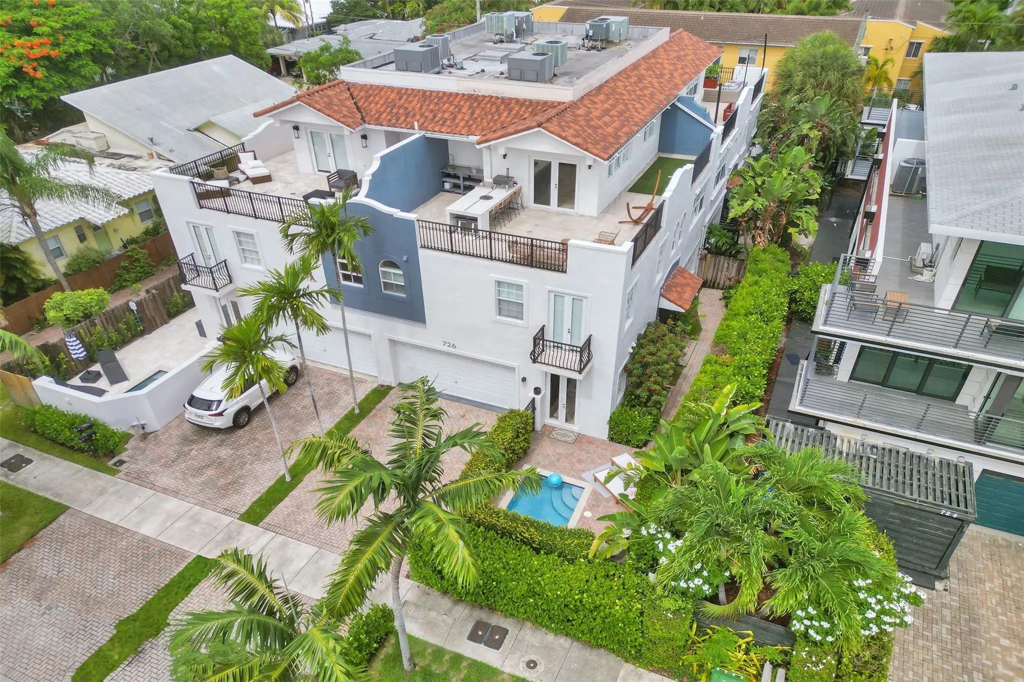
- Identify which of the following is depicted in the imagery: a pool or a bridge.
pool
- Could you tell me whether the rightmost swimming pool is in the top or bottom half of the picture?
bottom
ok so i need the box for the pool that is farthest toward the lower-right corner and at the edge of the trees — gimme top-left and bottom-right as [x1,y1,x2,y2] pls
[496,464,589,539]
